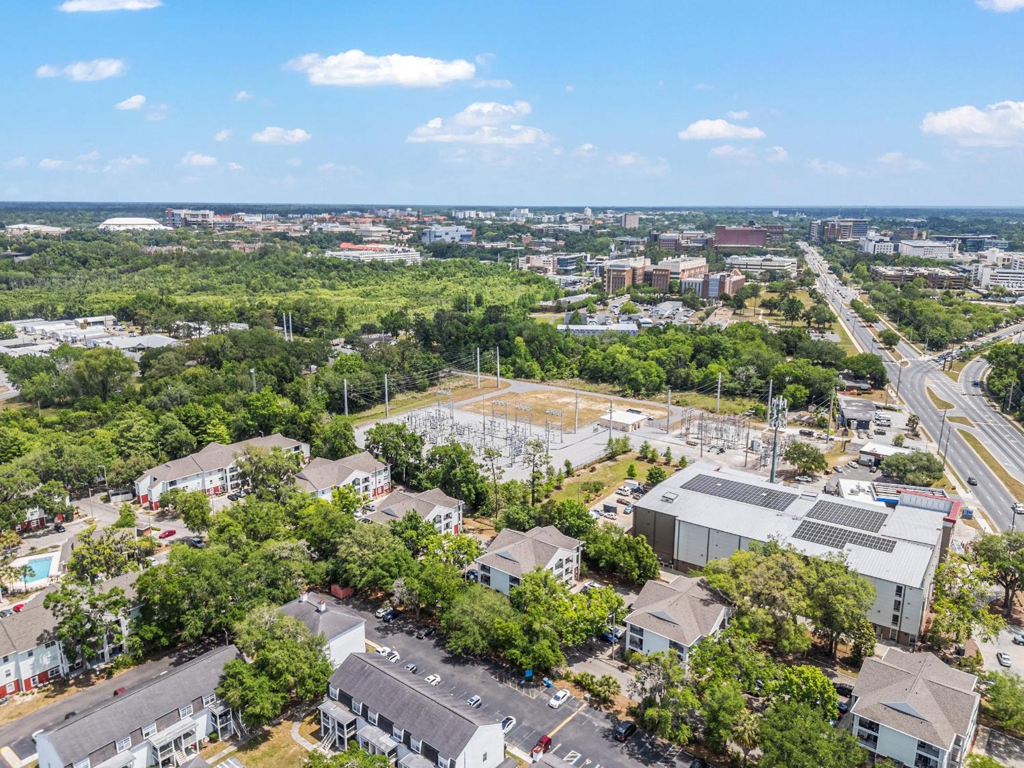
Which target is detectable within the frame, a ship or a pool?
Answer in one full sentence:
Of the two, only a pool appears.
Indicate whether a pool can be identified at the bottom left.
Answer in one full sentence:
Yes, a pool appears at the bottom left.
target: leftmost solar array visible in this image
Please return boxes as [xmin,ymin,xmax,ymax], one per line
[683,473,797,509]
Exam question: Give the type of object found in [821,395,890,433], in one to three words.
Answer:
building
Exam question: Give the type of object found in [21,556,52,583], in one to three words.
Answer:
swimming pool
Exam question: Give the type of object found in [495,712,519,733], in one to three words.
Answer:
car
